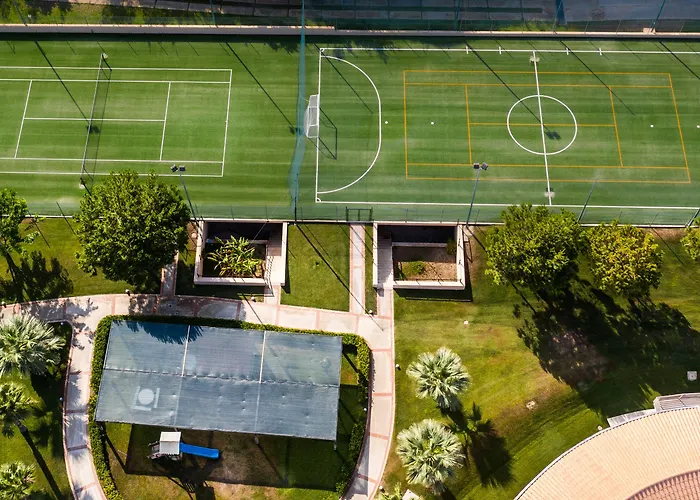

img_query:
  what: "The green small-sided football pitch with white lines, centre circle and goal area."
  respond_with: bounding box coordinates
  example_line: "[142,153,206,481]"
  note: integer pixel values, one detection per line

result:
[297,36,700,226]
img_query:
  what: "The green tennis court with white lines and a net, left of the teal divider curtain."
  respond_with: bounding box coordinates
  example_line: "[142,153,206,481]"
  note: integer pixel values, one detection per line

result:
[0,31,305,221]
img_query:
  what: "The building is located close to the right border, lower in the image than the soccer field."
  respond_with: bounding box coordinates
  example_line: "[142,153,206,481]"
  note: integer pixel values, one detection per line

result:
[512,389,700,500]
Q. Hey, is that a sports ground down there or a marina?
sports ground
